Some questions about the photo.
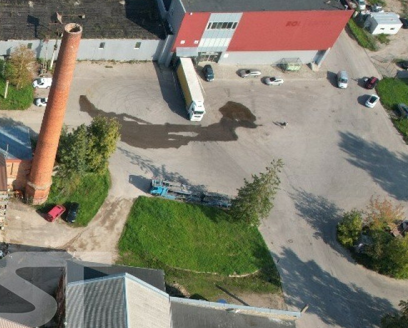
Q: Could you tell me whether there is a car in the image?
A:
Yes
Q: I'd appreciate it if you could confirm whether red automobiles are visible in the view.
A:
Yes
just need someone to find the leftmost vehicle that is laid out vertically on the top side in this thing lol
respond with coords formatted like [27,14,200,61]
[178,57,207,120]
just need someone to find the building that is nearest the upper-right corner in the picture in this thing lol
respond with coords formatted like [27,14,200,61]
[363,12,401,35]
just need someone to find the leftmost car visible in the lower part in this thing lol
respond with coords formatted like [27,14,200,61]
[46,204,65,224]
